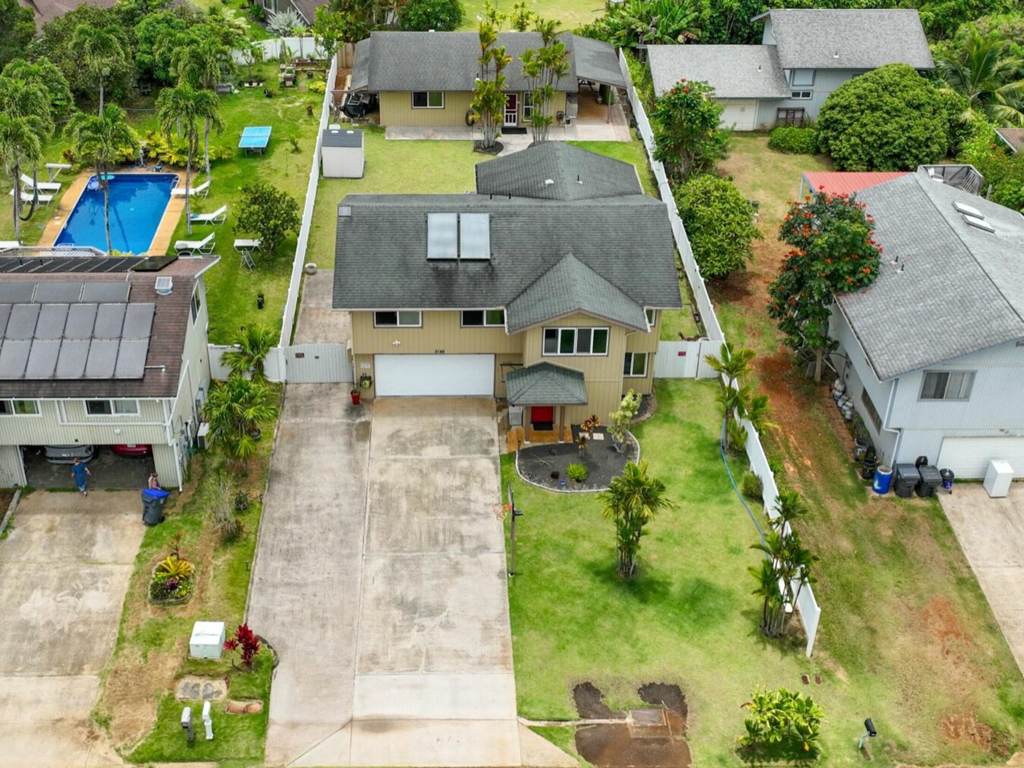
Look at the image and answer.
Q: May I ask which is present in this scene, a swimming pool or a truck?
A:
swimming pool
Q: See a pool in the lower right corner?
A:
No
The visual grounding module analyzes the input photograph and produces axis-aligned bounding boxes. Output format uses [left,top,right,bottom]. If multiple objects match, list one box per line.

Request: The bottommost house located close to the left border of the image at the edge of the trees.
[0,255,222,490]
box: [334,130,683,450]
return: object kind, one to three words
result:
house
